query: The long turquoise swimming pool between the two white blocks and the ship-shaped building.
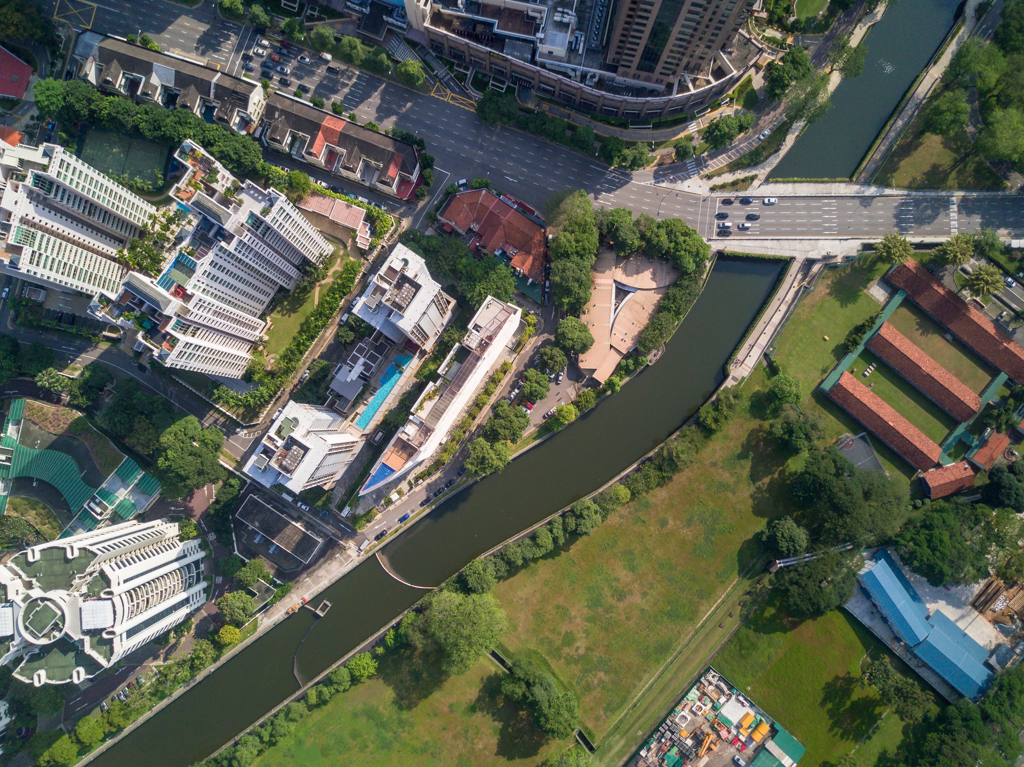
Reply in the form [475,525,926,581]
[354,353,416,434]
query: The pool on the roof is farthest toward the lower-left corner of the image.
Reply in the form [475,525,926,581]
[362,464,395,492]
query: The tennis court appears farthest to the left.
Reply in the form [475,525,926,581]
[81,128,172,181]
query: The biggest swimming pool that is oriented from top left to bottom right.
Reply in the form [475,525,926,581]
[176,261,196,278]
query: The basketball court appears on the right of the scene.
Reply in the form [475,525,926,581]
[841,433,891,480]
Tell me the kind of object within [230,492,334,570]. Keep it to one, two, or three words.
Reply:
building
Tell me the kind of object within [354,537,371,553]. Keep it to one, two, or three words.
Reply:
vehicle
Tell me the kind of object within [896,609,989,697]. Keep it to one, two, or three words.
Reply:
shed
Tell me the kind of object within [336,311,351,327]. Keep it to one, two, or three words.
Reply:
vehicle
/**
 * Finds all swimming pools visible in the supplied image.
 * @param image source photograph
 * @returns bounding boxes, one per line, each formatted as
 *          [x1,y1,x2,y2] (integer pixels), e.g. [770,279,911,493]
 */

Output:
[362,464,395,492]
[354,353,416,434]
[159,252,179,277]
[176,261,196,278]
